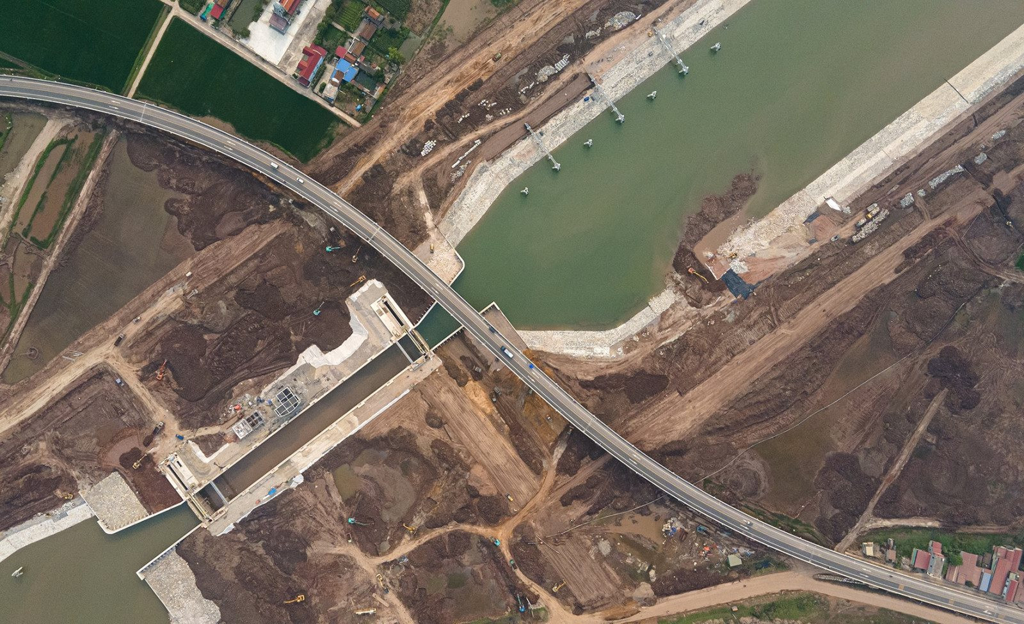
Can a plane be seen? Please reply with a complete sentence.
No, the scene contains no plane.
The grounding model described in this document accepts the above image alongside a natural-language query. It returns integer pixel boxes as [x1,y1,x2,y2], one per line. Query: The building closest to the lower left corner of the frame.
[232,410,266,439]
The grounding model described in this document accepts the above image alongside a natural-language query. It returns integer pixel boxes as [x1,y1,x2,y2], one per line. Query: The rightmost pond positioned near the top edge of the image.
[433,0,503,47]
